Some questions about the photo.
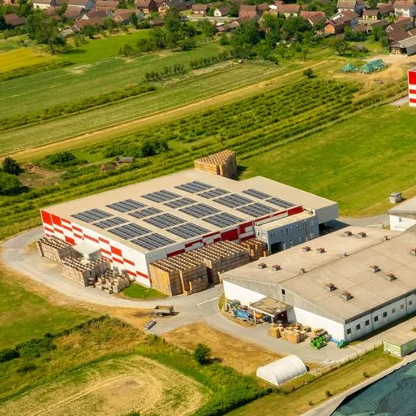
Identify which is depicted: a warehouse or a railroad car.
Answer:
warehouse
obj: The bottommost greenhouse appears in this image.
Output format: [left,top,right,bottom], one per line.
[254,351,309,385]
